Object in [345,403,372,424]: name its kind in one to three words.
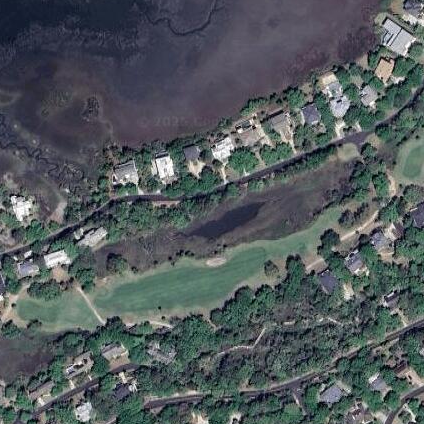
house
